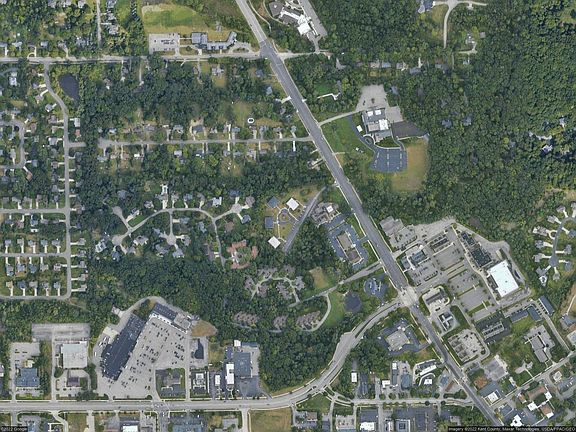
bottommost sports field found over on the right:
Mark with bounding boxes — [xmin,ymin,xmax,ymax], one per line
[399,145,427,190]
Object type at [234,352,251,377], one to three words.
building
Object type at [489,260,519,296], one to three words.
building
